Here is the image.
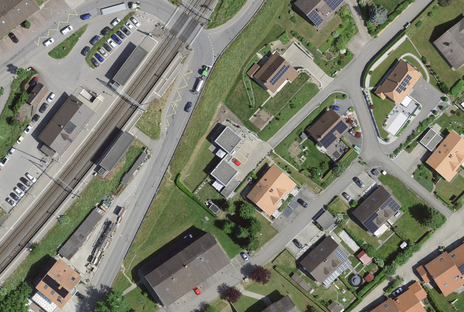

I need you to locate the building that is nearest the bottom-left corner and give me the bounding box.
[32,260,82,312]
